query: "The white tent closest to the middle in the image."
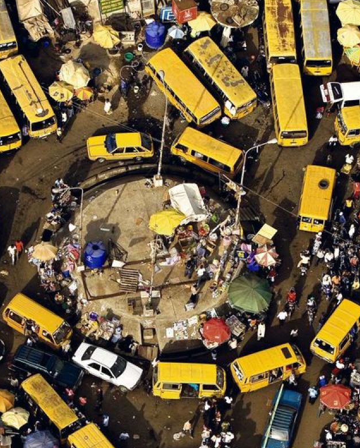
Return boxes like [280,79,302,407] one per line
[170,182,209,218]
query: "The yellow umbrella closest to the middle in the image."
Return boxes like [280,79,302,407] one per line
[149,211,184,242]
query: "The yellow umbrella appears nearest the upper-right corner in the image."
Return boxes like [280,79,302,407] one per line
[335,0,360,26]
